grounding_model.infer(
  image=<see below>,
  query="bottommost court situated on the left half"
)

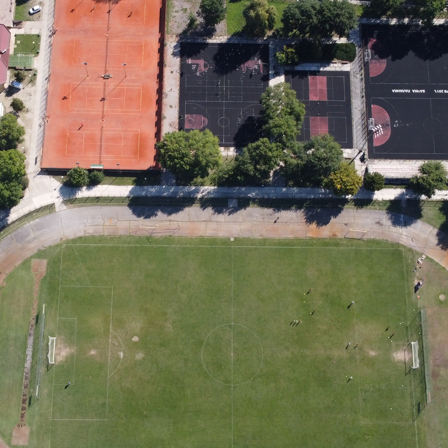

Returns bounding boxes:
[41,122,162,168]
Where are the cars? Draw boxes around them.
[28,4,42,14]
[9,80,23,89]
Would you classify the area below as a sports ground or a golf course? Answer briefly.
sports ground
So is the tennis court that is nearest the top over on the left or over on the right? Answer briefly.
left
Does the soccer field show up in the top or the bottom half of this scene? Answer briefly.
bottom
